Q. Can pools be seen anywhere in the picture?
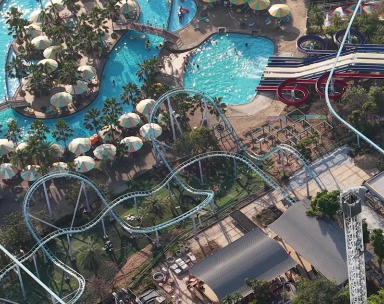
Yes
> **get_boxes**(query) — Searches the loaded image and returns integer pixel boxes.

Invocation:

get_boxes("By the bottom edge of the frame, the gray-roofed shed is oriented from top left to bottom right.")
[268,200,356,304]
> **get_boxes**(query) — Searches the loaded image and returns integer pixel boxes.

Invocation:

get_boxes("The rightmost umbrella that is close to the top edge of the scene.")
[268,5,291,22]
